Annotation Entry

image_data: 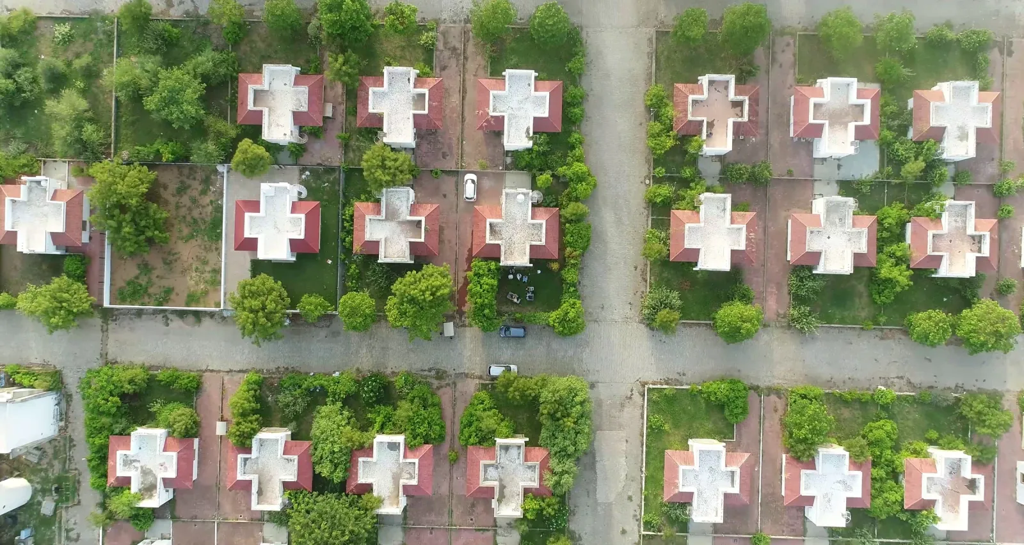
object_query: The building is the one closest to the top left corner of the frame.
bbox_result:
[0,172,92,253]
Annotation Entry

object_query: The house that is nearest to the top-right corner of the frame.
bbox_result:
[908,79,1000,158]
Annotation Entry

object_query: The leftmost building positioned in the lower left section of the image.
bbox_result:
[0,383,57,458]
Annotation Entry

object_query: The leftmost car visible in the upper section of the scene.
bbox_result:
[463,174,477,201]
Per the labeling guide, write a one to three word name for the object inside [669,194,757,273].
house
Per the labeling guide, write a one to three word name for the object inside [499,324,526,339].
car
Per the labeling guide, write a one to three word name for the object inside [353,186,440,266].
house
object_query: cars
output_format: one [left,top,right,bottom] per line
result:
[487,363,517,376]
[499,324,526,339]
[463,174,477,201]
